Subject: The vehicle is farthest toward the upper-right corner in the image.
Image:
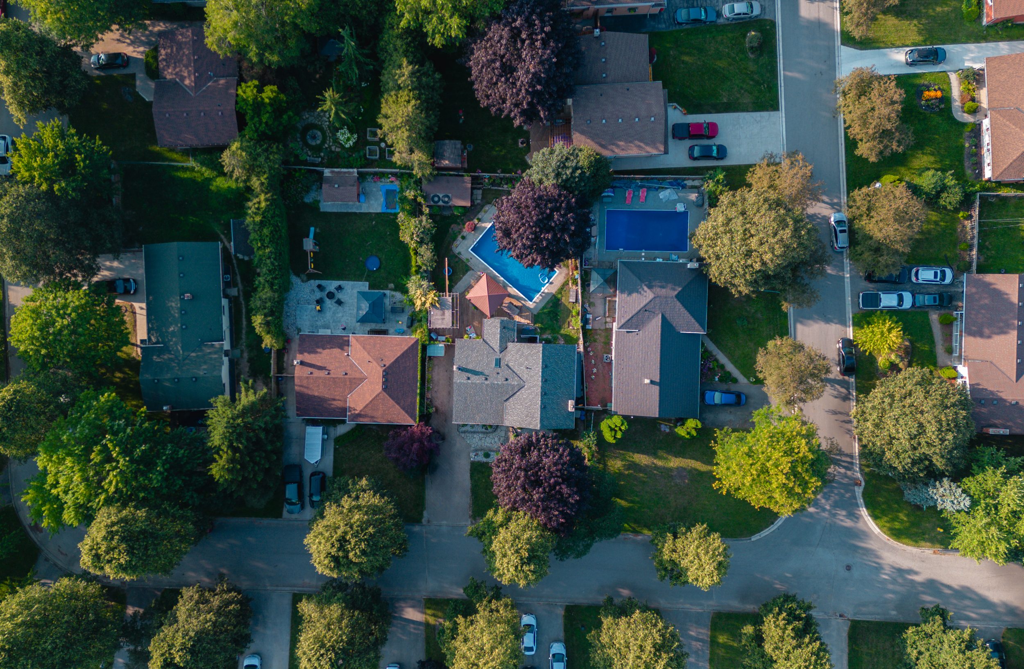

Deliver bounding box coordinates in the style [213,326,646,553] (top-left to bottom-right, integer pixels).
[902,45,946,68]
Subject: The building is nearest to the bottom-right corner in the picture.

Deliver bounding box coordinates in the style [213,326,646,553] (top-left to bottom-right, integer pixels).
[956,271,1024,436]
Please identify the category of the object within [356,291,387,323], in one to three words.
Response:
gazebo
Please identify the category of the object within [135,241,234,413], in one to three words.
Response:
building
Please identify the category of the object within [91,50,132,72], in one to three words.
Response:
car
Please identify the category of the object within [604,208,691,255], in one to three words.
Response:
swimming pool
